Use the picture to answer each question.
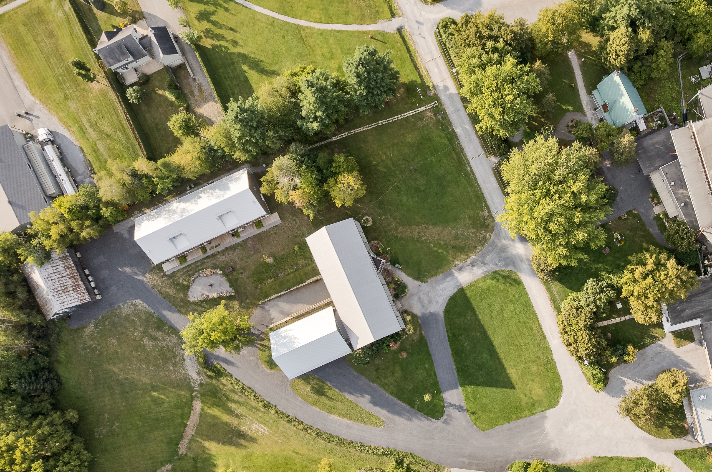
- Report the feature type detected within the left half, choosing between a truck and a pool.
truck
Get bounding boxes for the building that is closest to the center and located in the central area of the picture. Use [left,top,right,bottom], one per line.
[306,218,404,350]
